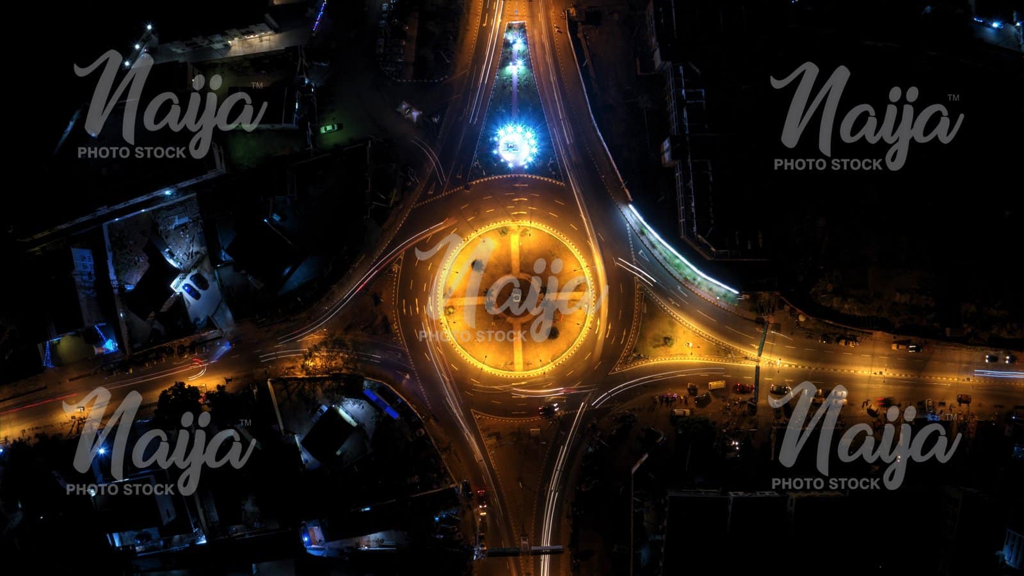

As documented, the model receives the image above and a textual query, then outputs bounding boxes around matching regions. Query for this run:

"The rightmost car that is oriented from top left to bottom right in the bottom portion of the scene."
[864,405,882,419]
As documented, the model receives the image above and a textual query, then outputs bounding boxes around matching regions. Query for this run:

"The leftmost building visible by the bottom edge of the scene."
[10,465,90,576]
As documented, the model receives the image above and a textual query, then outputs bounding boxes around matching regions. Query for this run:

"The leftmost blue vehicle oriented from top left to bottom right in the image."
[182,283,200,299]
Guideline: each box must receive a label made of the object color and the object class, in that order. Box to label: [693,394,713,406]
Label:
black vehicle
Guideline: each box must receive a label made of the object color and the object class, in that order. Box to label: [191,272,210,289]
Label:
black car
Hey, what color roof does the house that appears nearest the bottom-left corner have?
black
